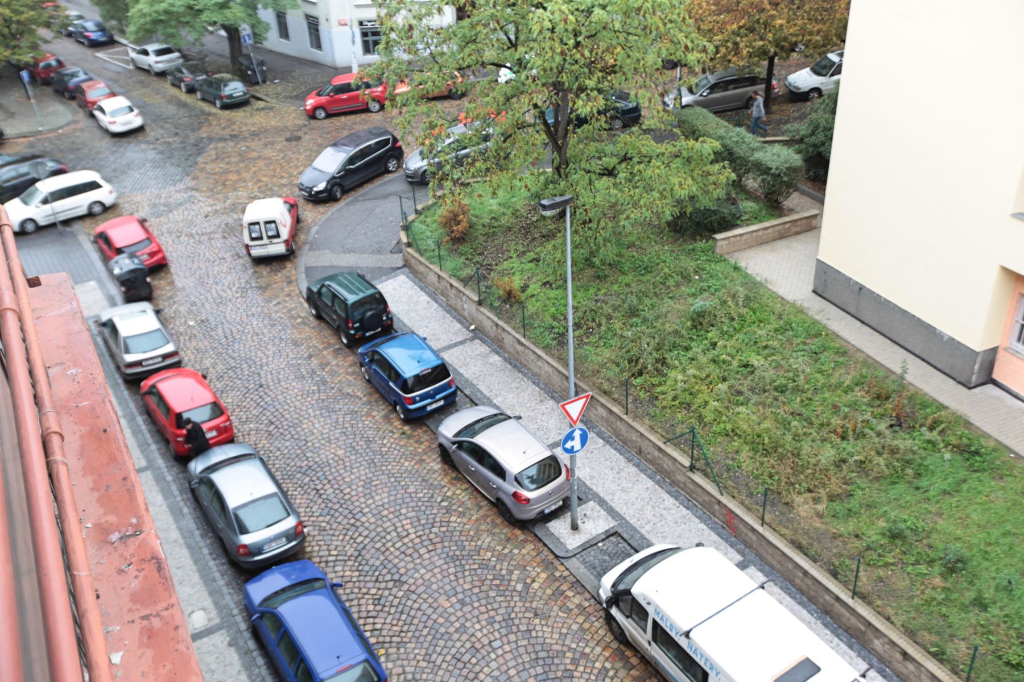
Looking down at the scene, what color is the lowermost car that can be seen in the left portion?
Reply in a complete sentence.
The lowermost car that can be seen in the left portion is blue.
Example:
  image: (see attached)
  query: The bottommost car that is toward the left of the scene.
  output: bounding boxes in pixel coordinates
[250,560,392,682]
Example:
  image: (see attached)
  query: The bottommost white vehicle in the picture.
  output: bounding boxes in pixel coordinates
[602,546,868,682]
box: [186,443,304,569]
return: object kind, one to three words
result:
car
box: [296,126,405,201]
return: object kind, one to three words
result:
car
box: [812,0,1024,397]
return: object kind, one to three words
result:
building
